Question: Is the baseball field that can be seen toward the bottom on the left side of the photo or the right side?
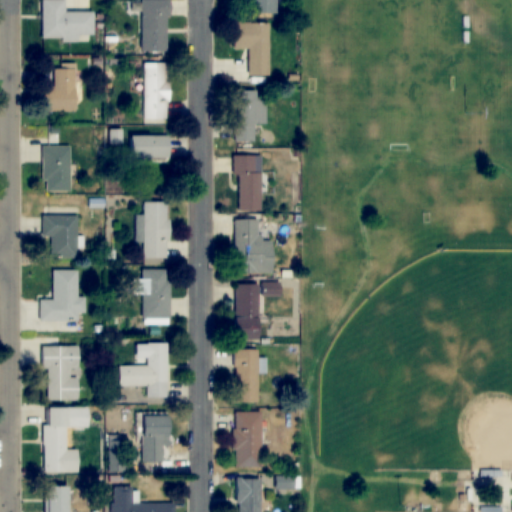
right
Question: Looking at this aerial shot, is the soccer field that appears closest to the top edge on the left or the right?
right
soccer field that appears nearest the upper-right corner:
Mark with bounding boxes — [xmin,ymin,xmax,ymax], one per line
[308,0,512,240]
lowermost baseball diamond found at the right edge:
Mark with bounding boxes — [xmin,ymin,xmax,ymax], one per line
[319,250,512,470]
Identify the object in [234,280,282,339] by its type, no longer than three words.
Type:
house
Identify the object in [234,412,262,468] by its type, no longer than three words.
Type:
house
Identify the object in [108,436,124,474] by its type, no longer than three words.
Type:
shed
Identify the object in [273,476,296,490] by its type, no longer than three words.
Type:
shed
